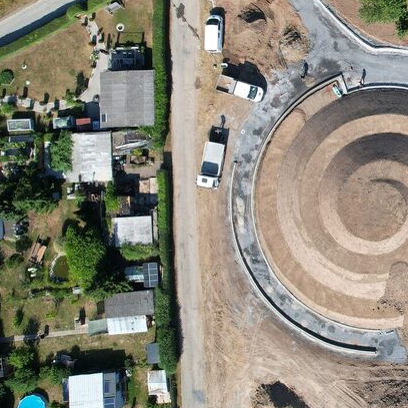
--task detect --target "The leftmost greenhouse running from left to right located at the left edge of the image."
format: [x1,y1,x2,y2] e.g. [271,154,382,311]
[8,119,36,131]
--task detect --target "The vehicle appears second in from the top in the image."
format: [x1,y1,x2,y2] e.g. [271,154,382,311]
[214,72,265,102]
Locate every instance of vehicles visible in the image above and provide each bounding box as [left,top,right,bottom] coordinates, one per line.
[205,12,223,52]
[214,72,265,102]
[197,137,223,190]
